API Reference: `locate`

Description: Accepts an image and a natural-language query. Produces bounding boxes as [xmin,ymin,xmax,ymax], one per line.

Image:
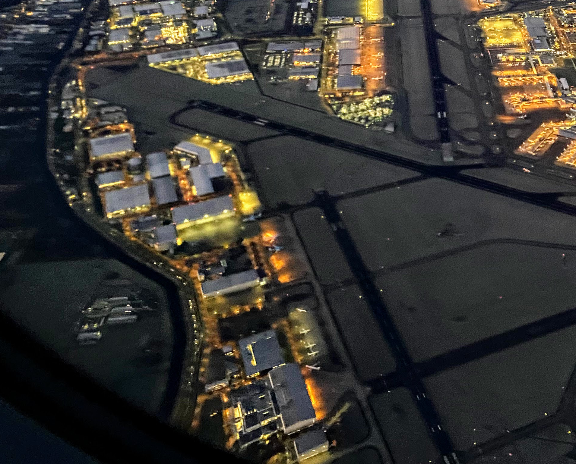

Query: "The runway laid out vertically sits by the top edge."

[420,0,454,148]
